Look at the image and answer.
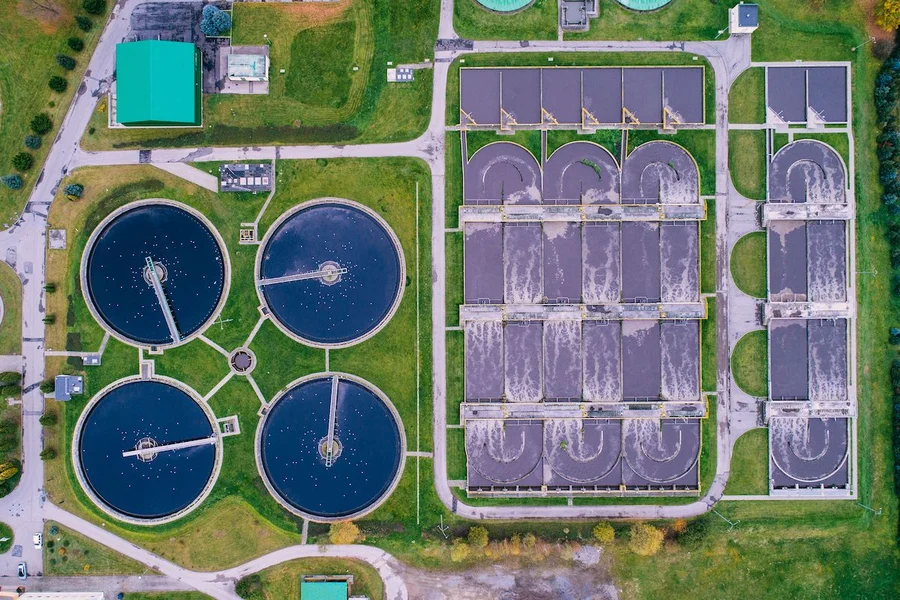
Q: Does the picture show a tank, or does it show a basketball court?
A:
tank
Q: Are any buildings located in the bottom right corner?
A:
No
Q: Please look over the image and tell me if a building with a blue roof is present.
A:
Yes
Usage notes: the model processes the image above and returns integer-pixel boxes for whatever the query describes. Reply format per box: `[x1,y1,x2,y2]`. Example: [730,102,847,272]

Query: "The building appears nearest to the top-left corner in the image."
[116,40,200,126]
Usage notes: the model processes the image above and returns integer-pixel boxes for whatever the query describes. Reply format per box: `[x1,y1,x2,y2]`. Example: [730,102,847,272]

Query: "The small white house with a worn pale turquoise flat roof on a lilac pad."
[228,54,270,81]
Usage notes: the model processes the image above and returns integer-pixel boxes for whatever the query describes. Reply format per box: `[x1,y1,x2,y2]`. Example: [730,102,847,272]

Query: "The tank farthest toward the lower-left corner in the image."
[72,375,223,524]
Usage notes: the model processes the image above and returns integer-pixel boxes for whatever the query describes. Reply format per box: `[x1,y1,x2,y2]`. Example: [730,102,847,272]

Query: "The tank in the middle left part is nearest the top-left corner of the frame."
[81,199,232,349]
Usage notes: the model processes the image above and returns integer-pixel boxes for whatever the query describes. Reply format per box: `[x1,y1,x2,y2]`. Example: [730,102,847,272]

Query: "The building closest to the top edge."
[728,3,758,35]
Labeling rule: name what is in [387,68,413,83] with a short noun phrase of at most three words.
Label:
building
